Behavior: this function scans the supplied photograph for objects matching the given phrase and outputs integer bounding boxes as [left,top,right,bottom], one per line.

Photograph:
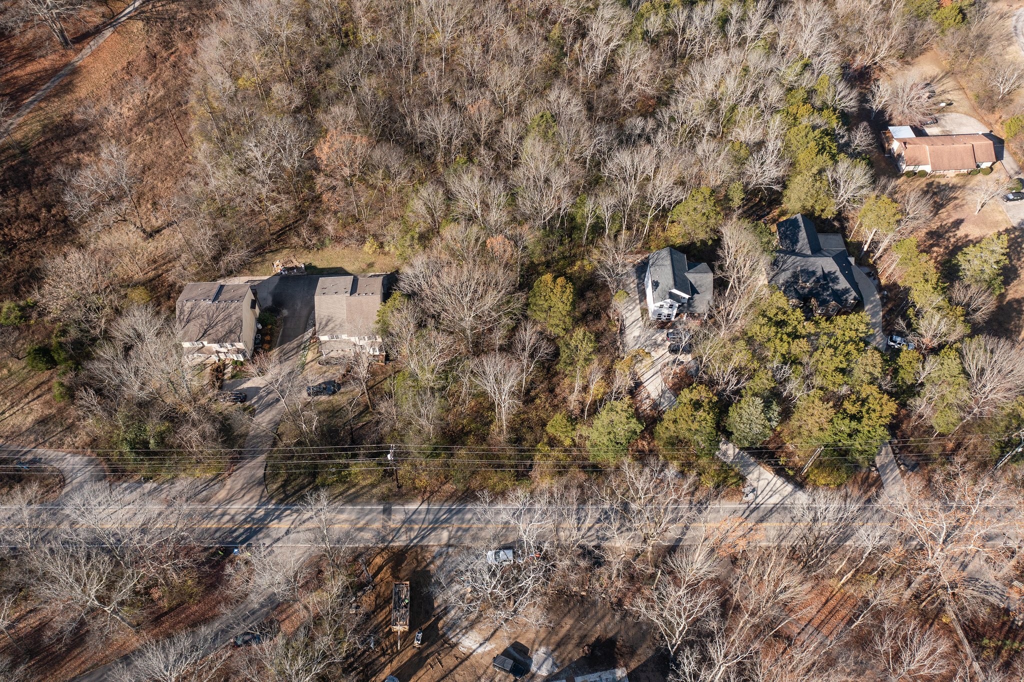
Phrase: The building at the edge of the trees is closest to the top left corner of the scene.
[175,277,269,373]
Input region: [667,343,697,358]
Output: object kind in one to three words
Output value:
car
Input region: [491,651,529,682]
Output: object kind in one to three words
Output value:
car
